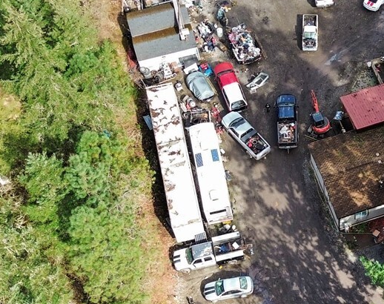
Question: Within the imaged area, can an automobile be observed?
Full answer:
Yes, the frame does contain an automobile.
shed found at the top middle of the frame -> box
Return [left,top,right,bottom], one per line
[121,0,199,75]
